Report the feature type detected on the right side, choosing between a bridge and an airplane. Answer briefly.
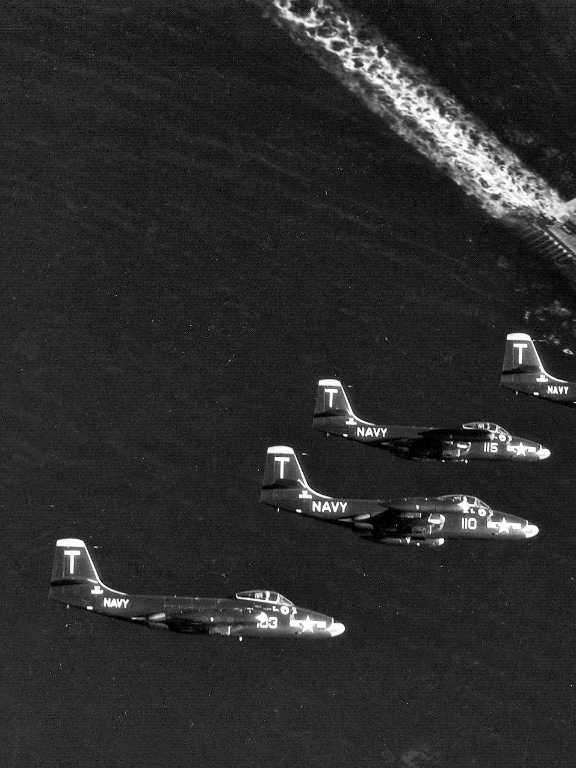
airplane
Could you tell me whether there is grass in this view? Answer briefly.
No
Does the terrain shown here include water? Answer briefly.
Yes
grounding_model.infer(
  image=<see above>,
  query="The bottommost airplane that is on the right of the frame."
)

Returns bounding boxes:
[259,445,538,548]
